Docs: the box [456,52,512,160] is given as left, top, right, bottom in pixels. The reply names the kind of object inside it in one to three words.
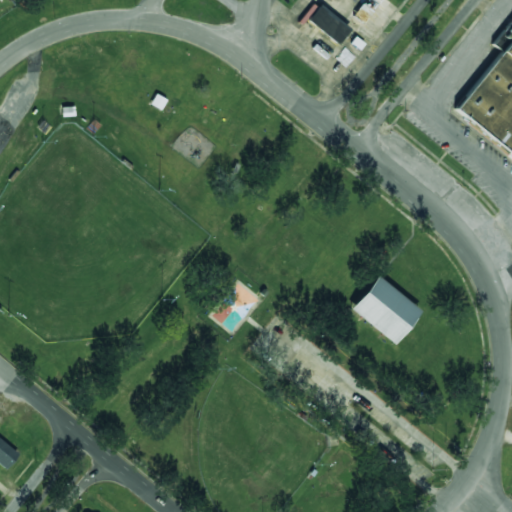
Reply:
building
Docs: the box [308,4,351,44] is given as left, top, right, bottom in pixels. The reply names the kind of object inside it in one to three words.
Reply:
building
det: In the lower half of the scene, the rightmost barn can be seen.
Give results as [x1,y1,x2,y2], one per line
[352,277,422,346]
